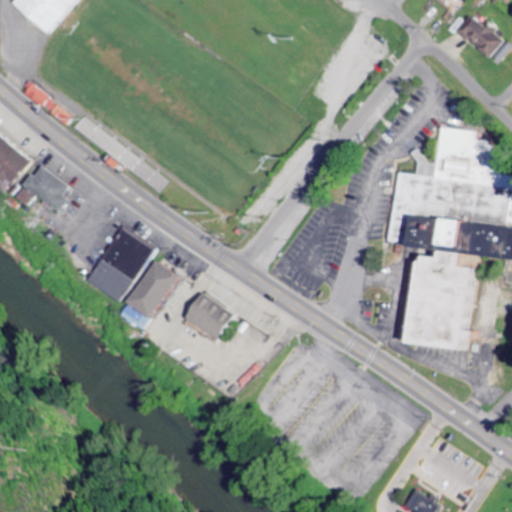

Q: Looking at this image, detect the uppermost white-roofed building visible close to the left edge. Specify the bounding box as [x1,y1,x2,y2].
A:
[11,0,84,36]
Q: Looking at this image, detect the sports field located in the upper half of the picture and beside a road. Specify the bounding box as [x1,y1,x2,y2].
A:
[42,0,310,216]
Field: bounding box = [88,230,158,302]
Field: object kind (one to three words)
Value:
building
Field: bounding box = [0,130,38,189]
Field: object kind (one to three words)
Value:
building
